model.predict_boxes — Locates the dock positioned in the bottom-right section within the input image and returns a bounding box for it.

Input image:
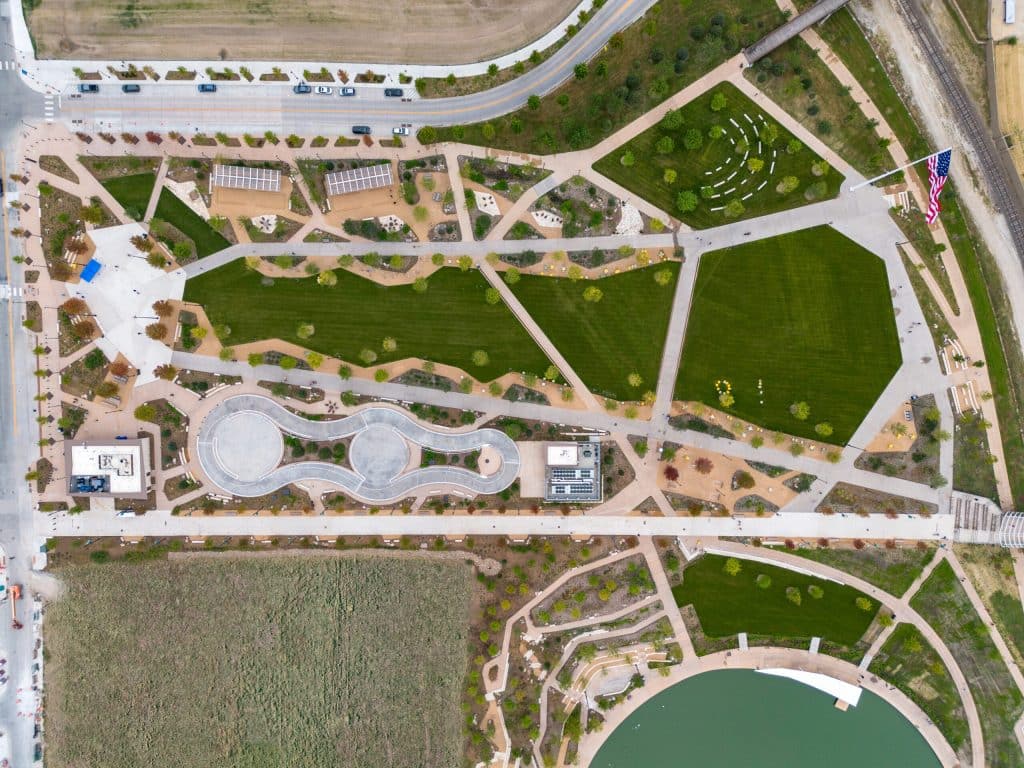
[754,667,862,711]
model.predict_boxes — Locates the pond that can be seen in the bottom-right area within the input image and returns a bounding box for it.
[588,666,944,768]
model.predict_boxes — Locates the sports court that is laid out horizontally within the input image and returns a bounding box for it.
[196,393,521,501]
